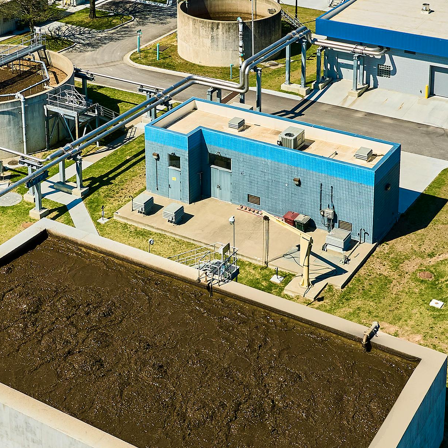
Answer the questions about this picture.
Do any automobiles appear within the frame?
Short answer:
No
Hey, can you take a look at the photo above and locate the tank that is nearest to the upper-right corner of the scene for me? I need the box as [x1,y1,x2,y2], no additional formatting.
[175,0,325,70]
